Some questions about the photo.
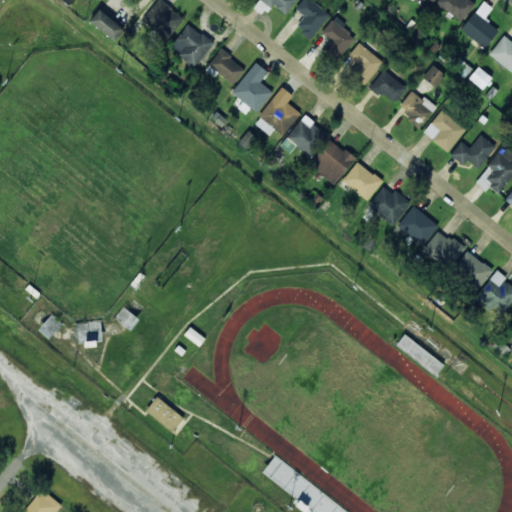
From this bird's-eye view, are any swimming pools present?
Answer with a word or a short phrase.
No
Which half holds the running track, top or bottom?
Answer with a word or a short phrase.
bottom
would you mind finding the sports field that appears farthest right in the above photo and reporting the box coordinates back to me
[228,303,504,512]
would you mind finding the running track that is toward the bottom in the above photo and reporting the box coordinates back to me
[184,288,512,512]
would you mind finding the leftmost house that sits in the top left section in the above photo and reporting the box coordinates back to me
[91,10,124,41]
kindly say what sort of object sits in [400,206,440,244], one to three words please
house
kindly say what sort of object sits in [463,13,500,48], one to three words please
house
